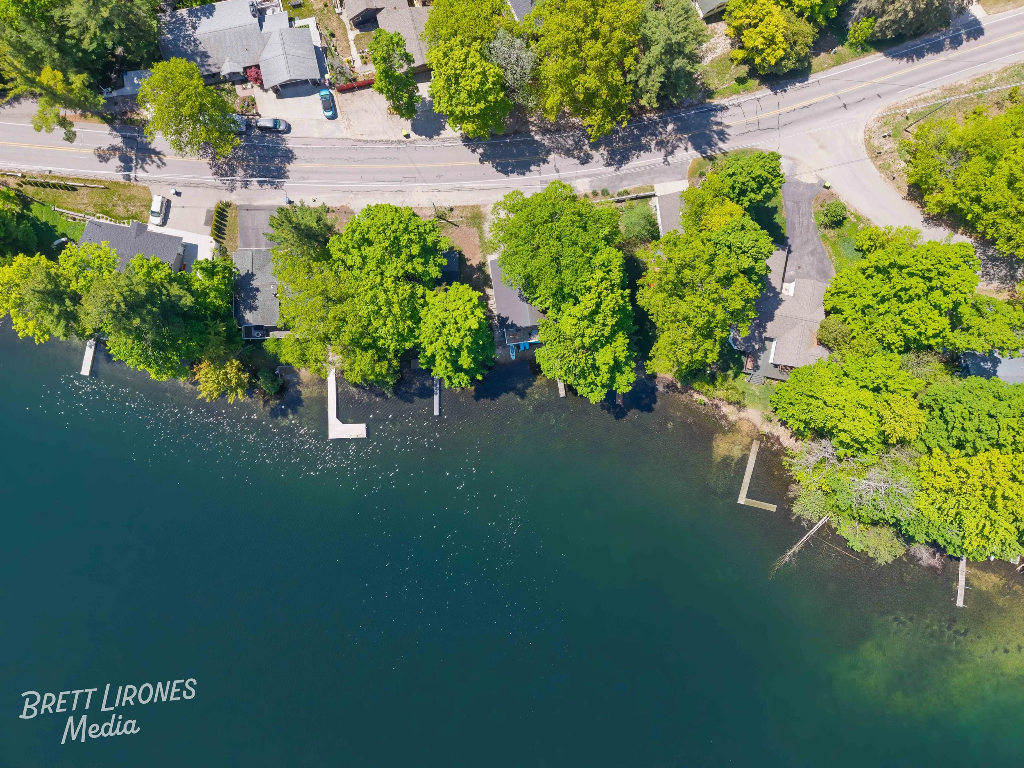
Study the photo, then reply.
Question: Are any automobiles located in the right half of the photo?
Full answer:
No, no automobile is visible in the right half of the photo.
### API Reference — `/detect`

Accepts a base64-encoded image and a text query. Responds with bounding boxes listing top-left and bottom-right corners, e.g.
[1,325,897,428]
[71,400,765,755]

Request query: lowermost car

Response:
[149,194,169,227]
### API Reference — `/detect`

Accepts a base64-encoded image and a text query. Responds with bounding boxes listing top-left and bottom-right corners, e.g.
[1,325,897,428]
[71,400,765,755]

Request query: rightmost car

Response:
[319,90,336,119]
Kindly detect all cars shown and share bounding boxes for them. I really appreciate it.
[149,194,169,227]
[256,117,287,134]
[319,90,336,119]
